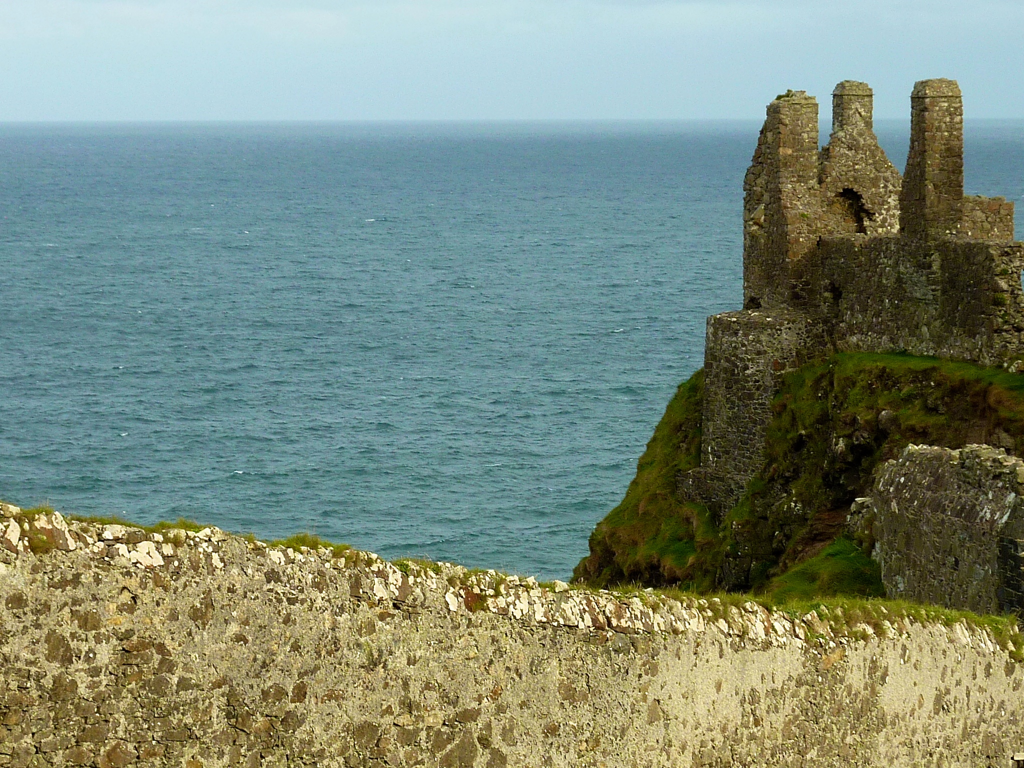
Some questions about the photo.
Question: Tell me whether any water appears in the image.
Yes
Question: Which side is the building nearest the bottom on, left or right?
right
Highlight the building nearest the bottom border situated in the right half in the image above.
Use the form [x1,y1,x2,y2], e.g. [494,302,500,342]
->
[676,303,852,521]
